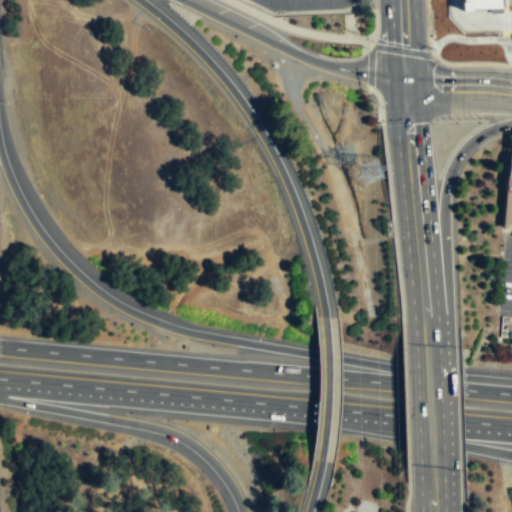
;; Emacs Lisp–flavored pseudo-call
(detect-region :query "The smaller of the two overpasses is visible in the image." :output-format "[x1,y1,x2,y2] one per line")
[314,316,343,464]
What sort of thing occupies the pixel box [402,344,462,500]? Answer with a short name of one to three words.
overpass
